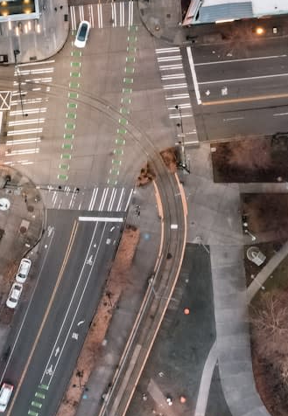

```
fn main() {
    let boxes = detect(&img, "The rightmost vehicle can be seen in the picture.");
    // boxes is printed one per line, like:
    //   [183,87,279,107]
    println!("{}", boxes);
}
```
[75,18,90,47]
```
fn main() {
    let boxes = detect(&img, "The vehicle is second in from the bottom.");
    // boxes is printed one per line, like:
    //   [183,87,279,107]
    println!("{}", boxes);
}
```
[6,281,23,309]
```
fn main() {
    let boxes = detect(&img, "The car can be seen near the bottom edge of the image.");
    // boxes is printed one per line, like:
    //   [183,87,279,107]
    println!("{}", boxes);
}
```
[0,382,12,413]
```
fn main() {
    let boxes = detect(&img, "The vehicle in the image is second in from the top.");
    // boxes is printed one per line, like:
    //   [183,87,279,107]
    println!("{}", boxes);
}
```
[16,256,31,284]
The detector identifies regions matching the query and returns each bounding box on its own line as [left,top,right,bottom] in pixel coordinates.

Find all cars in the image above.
[75,18,90,47]
[16,256,31,284]
[6,281,23,309]
[0,382,12,413]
